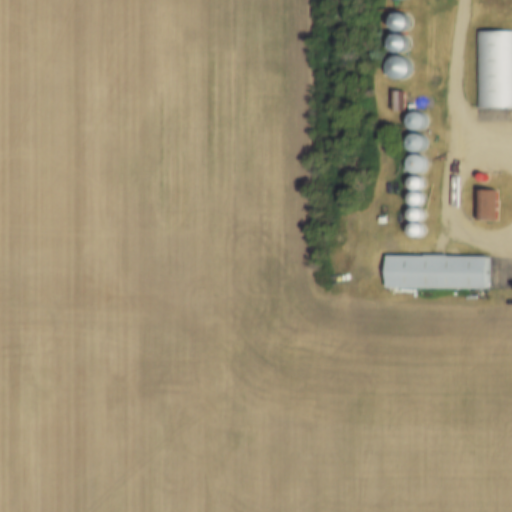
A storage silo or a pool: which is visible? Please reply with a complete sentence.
The image shows a storage silo.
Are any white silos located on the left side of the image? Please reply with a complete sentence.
No, the scene shows no white silo on the left side of the image.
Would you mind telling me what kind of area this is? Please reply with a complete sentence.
It's farmland.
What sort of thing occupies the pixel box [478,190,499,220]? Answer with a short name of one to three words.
building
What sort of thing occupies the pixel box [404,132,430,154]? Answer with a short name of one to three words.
silo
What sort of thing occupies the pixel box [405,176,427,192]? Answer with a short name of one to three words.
silo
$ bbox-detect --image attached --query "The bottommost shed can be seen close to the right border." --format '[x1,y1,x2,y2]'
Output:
[384,254,490,290]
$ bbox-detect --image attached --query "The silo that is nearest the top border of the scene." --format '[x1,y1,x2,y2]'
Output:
[387,12,414,32]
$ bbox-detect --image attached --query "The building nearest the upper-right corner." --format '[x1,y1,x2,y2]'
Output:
[478,30,512,108]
